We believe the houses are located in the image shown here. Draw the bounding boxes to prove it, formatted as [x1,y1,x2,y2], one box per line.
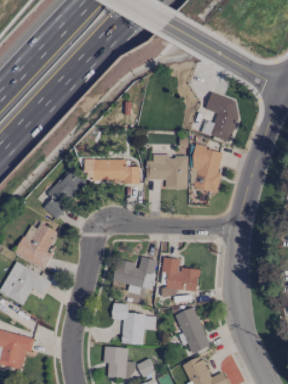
[43,174,86,221]
[197,92,244,142]
[83,158,142,185]
[104,348,135,380]
[190,144,221,194]
[182,356,230,384]
[159,258,200,296]
[16,221,62,274]
[0,332,34,368]
[112,259,156,295]
[110,304,156,346]
[146,156,188,190]
[0,262,49,306]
